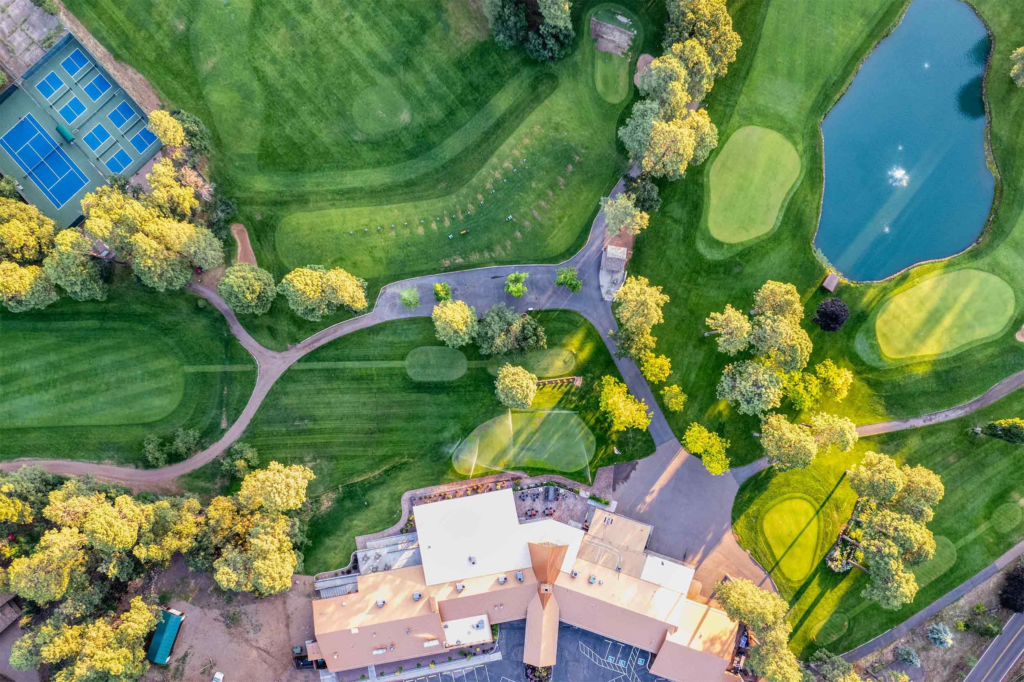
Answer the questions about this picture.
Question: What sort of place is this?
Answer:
golf course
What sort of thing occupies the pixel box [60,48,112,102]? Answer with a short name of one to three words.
sports court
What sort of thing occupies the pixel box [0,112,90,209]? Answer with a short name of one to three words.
tennis court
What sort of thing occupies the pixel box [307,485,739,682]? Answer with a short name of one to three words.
building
